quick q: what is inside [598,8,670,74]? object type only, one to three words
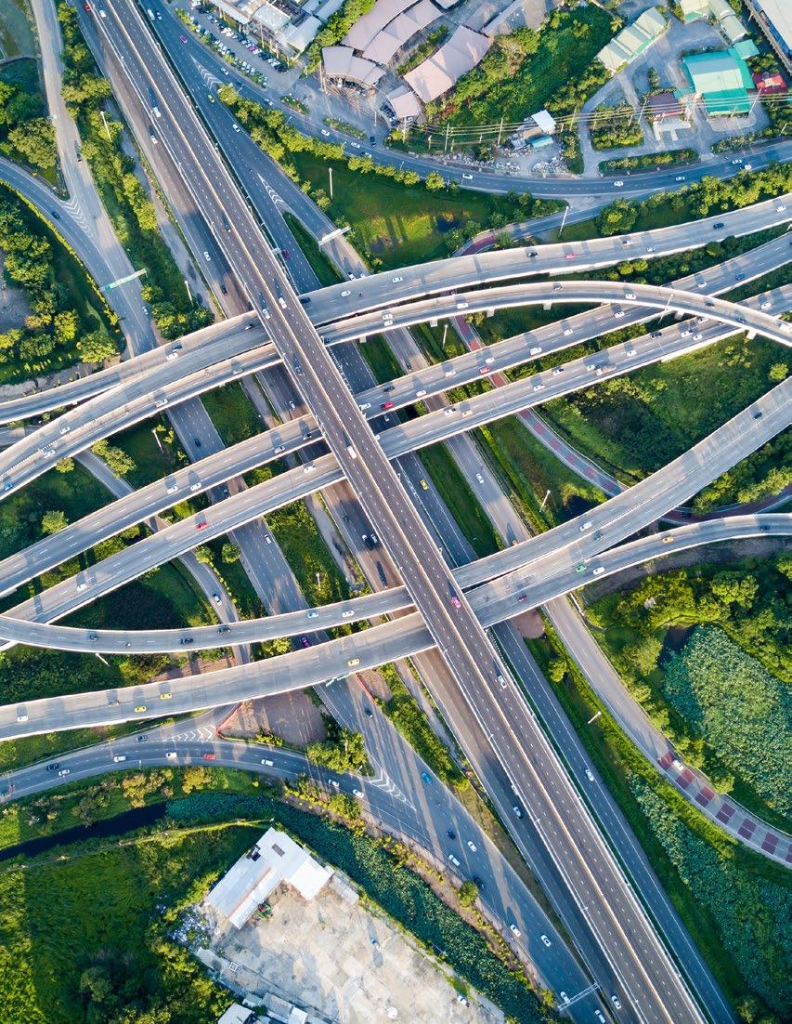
building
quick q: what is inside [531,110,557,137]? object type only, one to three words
shed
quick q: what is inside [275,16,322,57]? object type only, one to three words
building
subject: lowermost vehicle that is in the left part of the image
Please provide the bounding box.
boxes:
[256,903,270,918]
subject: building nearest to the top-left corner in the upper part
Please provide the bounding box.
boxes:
[212,0,267,29]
